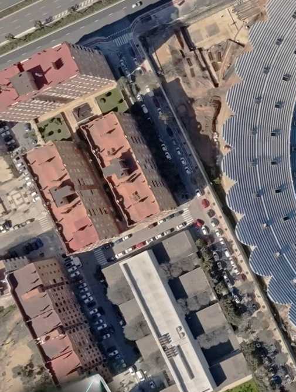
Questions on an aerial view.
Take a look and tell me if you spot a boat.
No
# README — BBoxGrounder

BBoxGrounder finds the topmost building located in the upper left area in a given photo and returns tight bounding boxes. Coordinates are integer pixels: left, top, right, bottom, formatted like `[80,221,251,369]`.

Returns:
[0,42,111,130]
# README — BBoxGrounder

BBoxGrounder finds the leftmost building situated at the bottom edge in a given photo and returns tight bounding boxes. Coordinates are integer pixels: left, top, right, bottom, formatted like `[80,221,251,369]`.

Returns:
[6,257,111,392]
